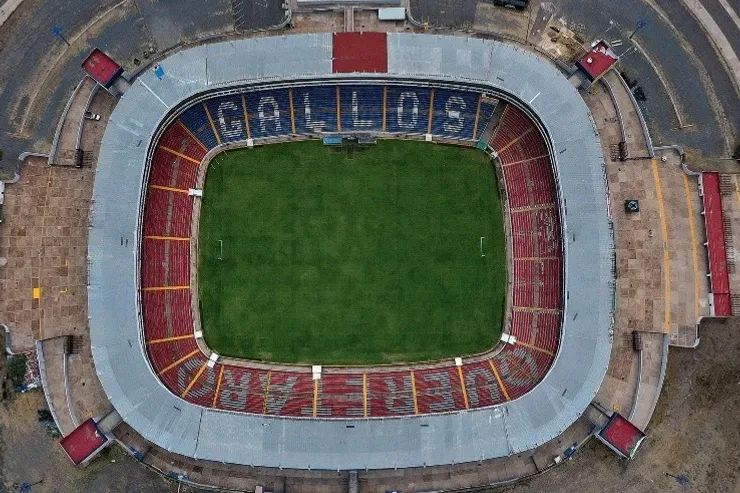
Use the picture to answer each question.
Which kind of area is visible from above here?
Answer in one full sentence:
The area seen from above is a sports ground.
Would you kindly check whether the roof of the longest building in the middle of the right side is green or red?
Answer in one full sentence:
The color of the roof of the longest building in the middle of the right side is red.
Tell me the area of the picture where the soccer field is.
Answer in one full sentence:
The soccer field is in the center part of the image.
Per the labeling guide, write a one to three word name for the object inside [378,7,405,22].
building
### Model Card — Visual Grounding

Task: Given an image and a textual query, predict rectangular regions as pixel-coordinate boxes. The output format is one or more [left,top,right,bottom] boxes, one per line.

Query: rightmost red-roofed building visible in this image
[697,172,731,316]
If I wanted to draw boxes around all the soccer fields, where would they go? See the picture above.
[199,139,506,365]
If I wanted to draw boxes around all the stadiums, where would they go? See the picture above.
[85,30,618,473]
